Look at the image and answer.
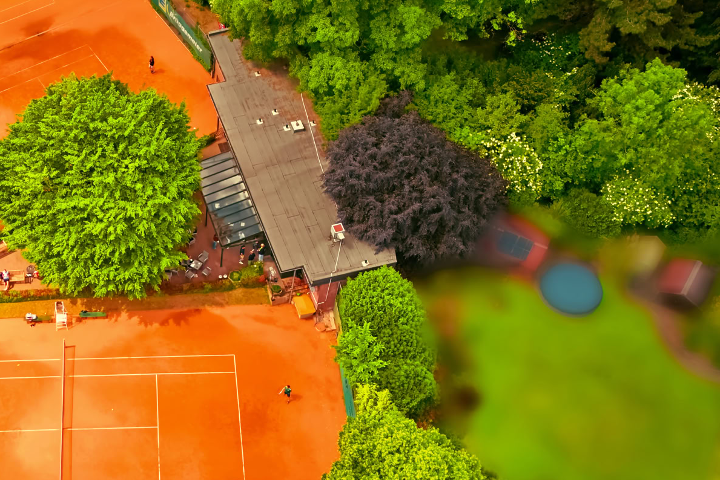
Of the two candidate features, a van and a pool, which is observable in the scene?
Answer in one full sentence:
Visible in the photo is a pool.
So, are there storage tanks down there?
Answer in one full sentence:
No, there is no storage tank in the image.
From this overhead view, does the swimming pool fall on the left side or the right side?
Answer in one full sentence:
It is on the right.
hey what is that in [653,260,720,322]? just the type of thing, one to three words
shed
